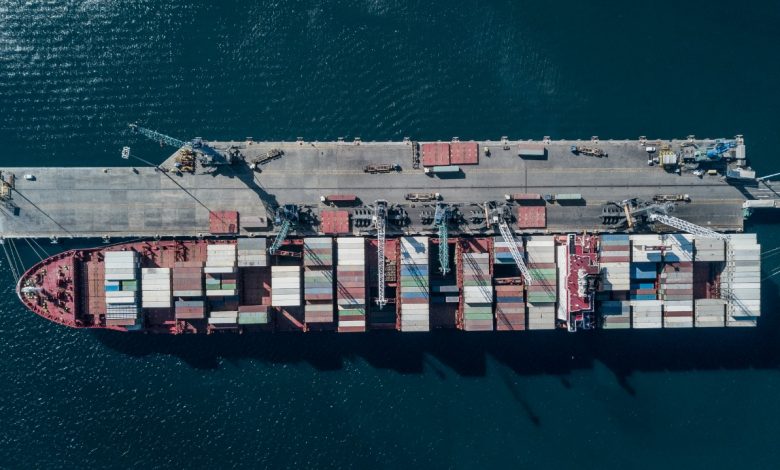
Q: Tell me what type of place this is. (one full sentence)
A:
The picture captures a port.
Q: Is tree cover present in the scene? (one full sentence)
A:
No, no tree cover is visible.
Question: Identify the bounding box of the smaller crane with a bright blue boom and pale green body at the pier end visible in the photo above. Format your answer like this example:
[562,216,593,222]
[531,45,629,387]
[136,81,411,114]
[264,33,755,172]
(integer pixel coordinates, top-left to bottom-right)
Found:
[685,140,745,171]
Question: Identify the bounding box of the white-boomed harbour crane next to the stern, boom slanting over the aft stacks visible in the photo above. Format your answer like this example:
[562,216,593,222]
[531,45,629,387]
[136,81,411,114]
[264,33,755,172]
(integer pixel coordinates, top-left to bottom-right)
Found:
[609,195,741,250]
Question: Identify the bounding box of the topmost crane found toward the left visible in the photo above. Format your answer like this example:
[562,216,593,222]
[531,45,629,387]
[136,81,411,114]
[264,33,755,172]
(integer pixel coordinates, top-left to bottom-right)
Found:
[126,119,245,168]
